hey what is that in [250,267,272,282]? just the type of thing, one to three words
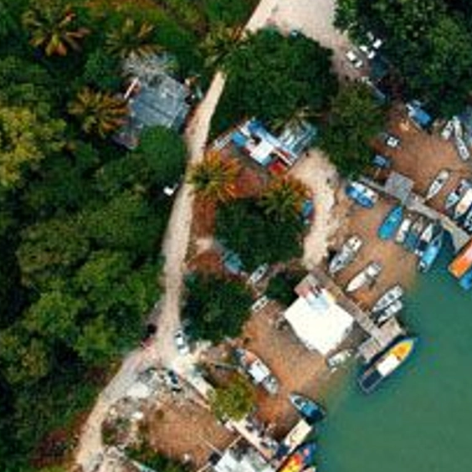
boat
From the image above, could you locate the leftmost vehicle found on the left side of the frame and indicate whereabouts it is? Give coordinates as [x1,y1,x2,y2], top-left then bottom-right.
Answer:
[140,318,159,342]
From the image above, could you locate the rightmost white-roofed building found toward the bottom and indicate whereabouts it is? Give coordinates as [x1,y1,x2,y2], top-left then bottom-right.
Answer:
[285,275,363,356]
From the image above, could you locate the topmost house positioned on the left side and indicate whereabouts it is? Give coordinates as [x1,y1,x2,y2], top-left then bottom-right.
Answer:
[122,70,198,130]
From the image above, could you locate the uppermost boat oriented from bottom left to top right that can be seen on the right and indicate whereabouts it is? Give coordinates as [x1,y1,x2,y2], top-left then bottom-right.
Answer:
[442,117,456,137]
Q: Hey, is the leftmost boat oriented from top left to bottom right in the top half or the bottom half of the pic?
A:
bottom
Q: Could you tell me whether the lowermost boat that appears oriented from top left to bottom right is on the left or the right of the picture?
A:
right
